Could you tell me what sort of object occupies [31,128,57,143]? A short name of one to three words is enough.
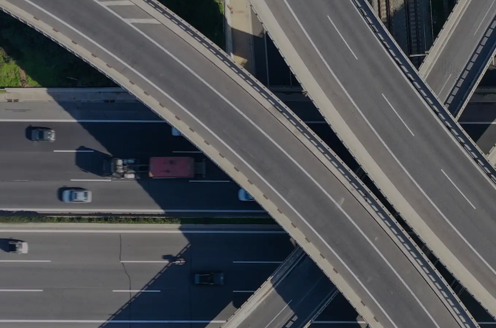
car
